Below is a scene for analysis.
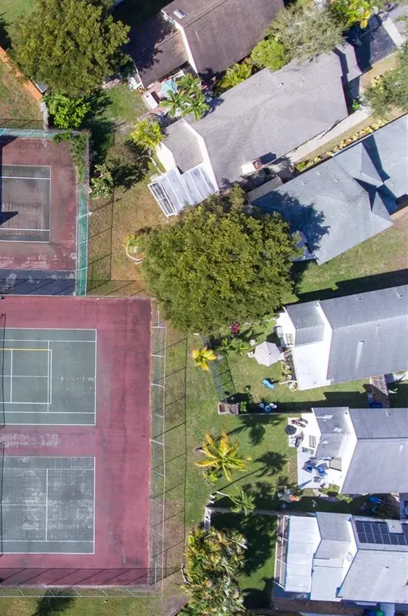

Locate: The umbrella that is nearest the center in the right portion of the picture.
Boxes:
[251,340,279,367]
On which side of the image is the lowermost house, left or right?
right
